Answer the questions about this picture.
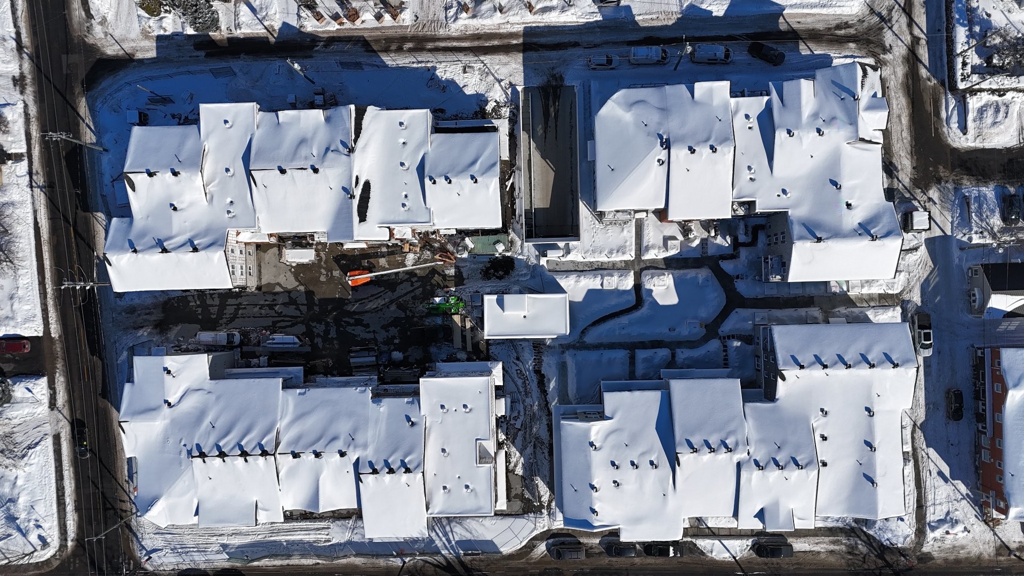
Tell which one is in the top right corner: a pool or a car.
car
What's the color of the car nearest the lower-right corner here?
black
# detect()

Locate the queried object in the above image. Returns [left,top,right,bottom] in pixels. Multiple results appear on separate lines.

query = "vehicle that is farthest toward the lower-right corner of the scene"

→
[944,387,964,421]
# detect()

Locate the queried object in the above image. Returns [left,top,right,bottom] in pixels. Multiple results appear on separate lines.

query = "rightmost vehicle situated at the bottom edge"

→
[752,541,794,559]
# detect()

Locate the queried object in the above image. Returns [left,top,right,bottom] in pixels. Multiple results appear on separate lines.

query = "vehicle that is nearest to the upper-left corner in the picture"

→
[126,111,153,126]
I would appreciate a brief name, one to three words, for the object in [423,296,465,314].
work vehicle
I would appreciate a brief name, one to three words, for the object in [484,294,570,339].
building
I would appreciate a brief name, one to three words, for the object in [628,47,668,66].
vehicle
